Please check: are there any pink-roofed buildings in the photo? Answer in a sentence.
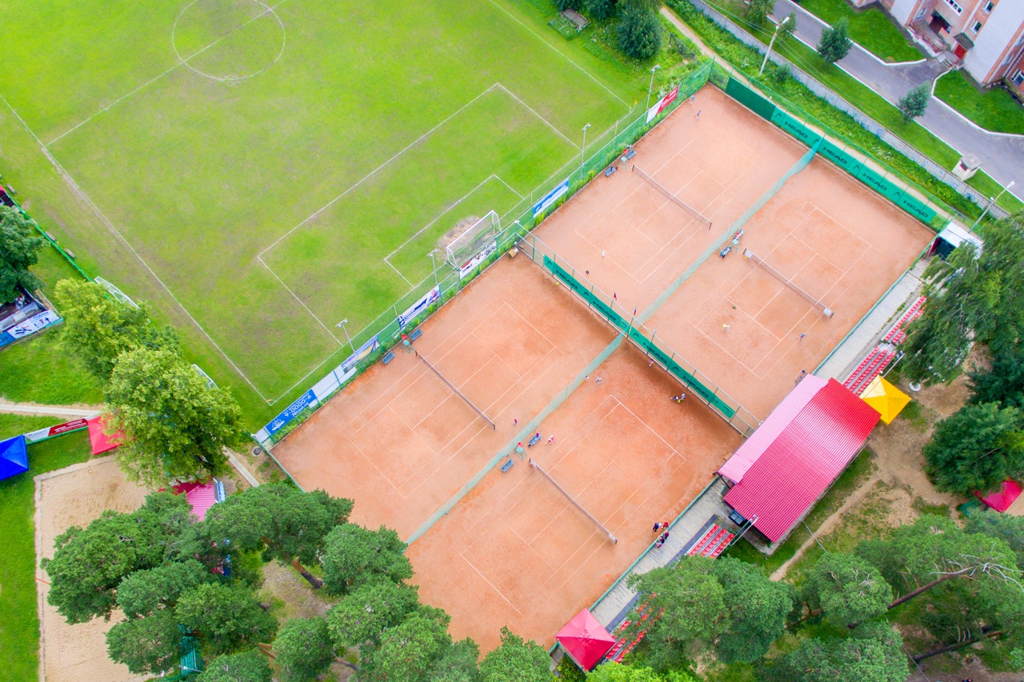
Yes, you can see a pink-roofed building in this photo.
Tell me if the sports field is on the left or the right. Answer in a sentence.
The sports field sits on the left side.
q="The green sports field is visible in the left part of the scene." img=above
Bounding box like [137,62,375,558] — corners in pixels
[0,0,666,445]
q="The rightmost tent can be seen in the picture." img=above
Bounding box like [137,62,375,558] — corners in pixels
[968,479,1021,516]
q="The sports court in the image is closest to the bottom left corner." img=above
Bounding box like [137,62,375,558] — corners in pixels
[34,447,178,682]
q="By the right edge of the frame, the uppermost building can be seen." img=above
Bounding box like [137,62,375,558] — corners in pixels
[850,0,1024,95]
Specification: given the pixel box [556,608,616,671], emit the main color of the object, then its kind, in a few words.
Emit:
red tent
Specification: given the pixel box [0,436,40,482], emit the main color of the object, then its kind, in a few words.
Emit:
blue tent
